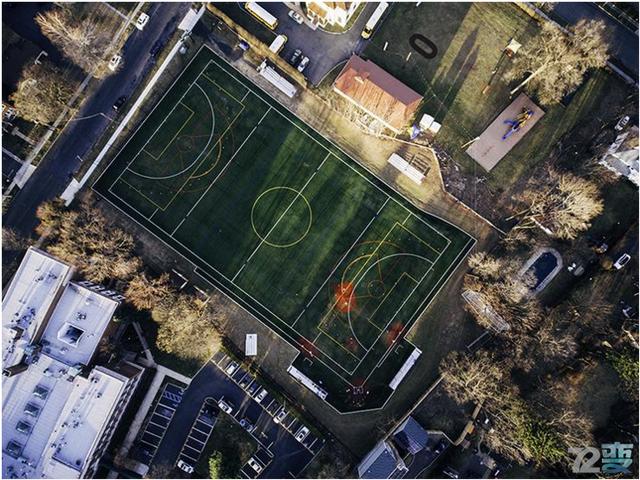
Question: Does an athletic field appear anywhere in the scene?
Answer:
Yes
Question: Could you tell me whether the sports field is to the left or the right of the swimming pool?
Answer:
left of it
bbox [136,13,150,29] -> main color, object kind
white vehicle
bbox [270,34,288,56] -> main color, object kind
white vehicle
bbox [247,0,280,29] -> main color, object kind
white bus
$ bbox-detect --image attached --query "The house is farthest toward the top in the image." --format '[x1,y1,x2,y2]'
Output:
[304,0,359,39]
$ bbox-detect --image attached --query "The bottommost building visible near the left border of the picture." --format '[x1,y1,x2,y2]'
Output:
[0,246,149,480]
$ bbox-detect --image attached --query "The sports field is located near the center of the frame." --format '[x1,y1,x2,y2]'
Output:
[91,44,477,414]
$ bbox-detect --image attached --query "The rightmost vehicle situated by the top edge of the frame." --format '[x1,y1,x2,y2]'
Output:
[361,0,388,39]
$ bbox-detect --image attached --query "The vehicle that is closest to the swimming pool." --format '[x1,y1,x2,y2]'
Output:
[615,253,629,269]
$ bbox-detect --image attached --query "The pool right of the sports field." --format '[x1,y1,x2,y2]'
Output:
[514,246,562,301]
